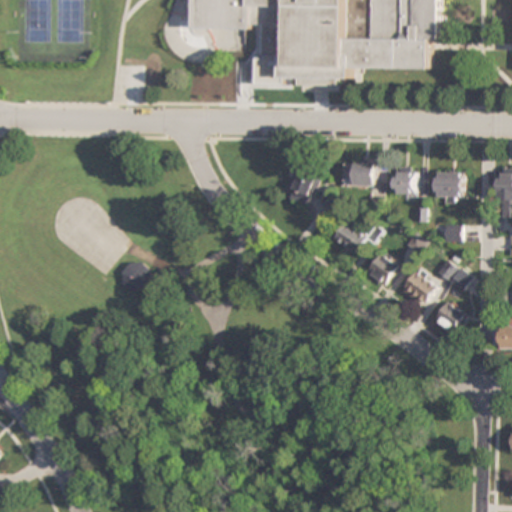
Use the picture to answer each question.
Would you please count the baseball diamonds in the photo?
1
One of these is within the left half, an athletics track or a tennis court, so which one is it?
tennis court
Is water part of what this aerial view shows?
No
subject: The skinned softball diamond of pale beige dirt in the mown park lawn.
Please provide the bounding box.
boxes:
[56,198,128,274]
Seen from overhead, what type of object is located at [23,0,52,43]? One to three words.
tennis court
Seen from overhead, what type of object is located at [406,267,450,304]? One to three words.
house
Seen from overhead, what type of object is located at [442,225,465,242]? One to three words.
building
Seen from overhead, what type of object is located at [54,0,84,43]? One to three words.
tennis court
